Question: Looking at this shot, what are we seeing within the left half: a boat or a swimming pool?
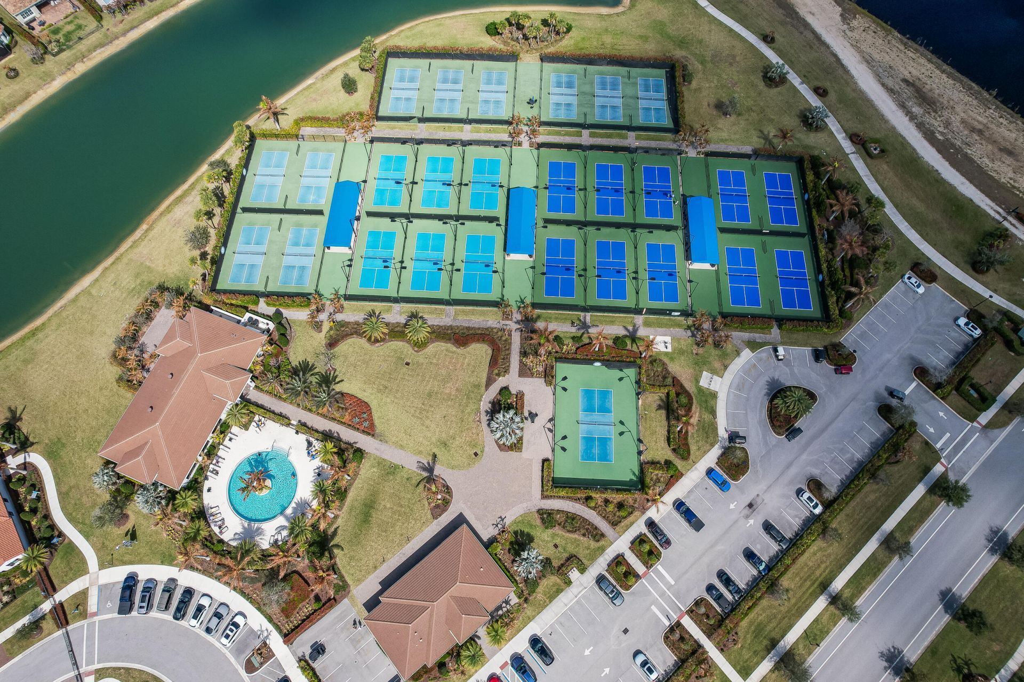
swimming pool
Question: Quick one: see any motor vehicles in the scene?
Yes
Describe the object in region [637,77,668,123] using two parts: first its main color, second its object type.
blue sports court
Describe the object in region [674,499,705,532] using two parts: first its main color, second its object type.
blue truck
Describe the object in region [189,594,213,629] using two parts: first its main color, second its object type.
white car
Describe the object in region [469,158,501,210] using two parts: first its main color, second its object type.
blue sports court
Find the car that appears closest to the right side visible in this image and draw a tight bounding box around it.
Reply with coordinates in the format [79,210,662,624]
[953,317,983,339]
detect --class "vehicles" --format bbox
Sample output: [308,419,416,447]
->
[189,594,213,629]
[155,576,179,613]
[716,569,745,601]
[727,435,748,444]
[743,547,769,576]
[762,520,791,550]
[784,427,806,441]
[646,518,672,549]
[705,467,732,493]
[173,587,197,621]
[529,635,555,667]
[511,653,538,682]
[900,274,925,296]
[704,582,735,616]
[219,612,247,648]
[833,365,855,375]
[309,641,328,662]
[135,579,158,614]
[812,350,827,363]
[797,488,824,516]
[597,574,623,606]
[953,317,983,339]
[204,603,230,637]
[632,650,660,682]
[118,576,139,614]
[887,389,909,400]
[774,348,786,361]
[674,499,705,532]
